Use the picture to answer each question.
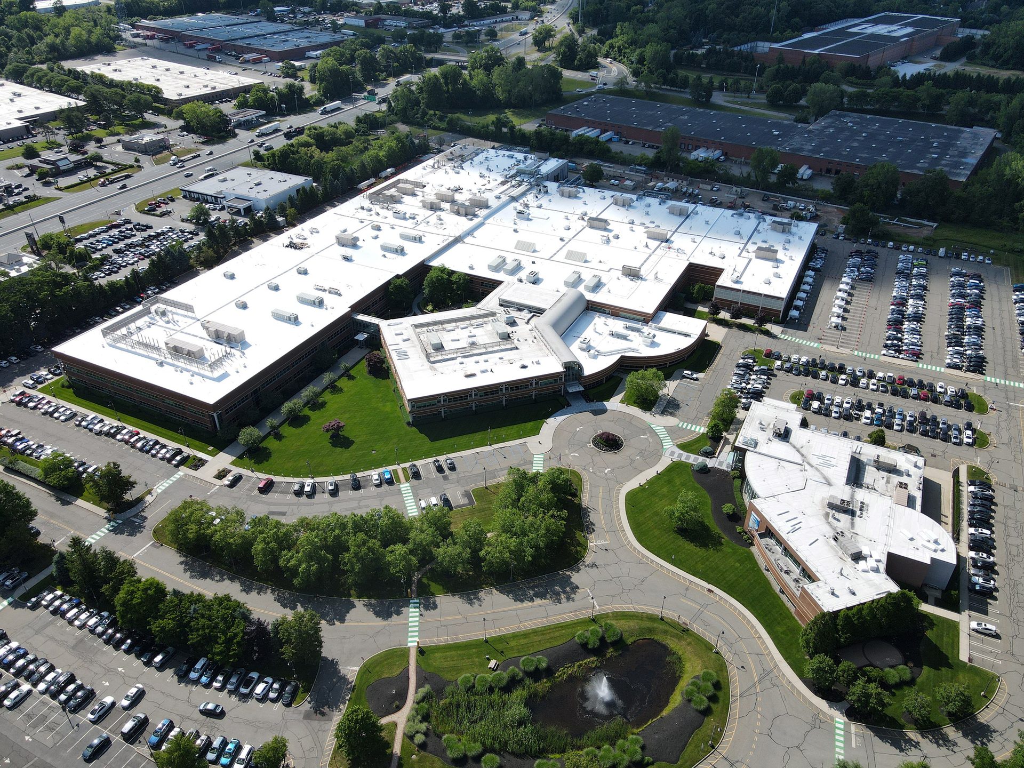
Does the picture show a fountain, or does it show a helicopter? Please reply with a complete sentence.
The image shows a fountain.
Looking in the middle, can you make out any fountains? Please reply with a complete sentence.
No, I see no fountain in the middle.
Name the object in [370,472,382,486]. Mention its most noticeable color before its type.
white vehicle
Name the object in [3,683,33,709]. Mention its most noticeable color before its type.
white car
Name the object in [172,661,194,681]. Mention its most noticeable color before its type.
black car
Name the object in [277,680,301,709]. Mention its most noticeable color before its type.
black car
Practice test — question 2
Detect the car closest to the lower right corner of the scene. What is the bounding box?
[969,621,999,637]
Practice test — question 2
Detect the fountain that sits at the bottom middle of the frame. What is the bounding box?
[574,683,631,724]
